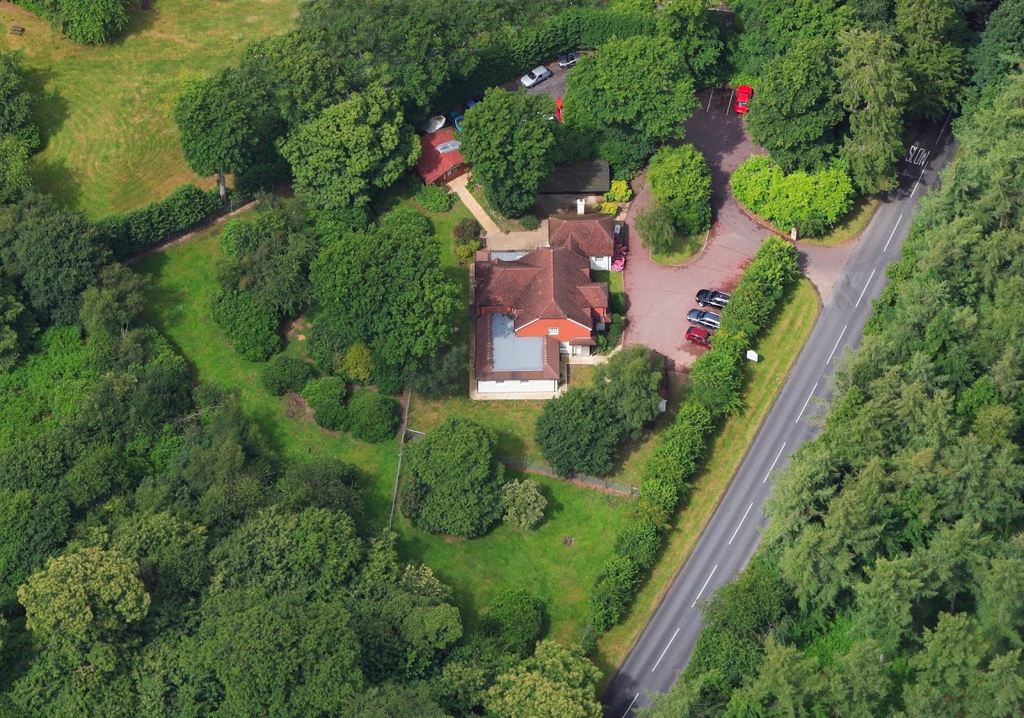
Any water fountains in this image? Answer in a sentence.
No, the photo shows no water fountain.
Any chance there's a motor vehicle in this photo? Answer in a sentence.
Yes, a motor vehicle is visible in the scene.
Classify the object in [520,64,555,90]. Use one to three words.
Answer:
vehicle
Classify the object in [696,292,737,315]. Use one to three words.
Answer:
car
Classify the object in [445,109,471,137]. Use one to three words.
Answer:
car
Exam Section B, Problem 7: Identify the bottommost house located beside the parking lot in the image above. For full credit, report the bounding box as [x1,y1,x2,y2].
[476,194,614,393]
